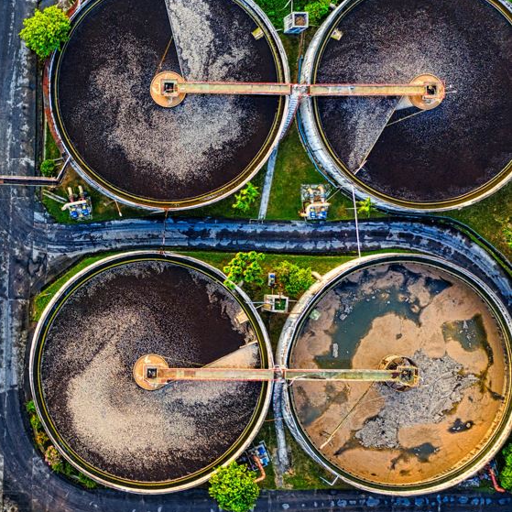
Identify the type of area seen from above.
industrial area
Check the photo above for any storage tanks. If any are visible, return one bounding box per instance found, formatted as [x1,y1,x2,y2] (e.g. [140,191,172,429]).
[28,248,278,495]
[271,250,512,496]
[290,0,512,212]
[40,0,296,210]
